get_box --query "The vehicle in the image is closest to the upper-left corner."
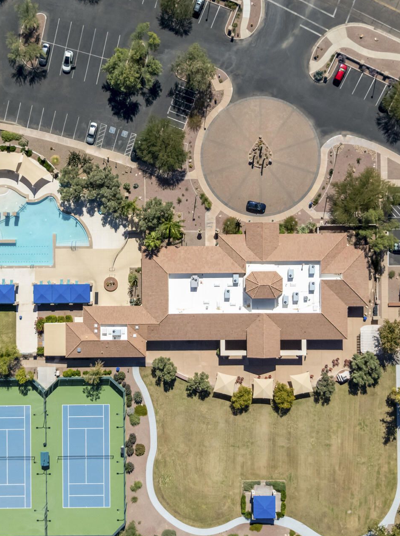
[38,44,51,66]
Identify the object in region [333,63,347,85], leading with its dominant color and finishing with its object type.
red car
